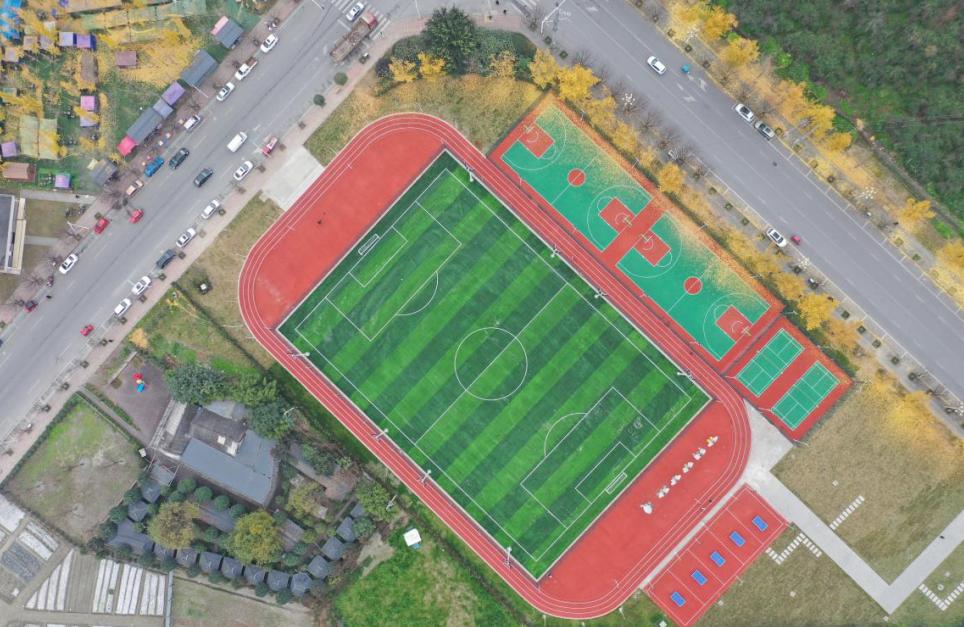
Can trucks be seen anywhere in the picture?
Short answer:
Yes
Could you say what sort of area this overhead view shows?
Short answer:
sports ground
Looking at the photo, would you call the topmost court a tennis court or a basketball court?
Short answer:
basketball court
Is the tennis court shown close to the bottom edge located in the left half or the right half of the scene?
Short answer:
right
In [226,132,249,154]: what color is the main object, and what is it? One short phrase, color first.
white vehicle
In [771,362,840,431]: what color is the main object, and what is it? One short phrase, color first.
green sports court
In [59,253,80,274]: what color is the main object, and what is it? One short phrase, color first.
white car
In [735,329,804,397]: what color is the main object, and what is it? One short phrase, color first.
green sports court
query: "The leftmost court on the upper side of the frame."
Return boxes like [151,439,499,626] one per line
[502,105,652,252]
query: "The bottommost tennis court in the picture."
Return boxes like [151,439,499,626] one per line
[643,483,789,627]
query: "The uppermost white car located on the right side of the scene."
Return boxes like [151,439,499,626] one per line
[646,56,667,76]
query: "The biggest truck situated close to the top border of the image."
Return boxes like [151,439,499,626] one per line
[327,10,378,65]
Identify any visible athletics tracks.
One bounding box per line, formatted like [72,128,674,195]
[237,113,750,618]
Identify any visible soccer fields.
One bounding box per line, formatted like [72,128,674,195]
[274,147,714,583]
